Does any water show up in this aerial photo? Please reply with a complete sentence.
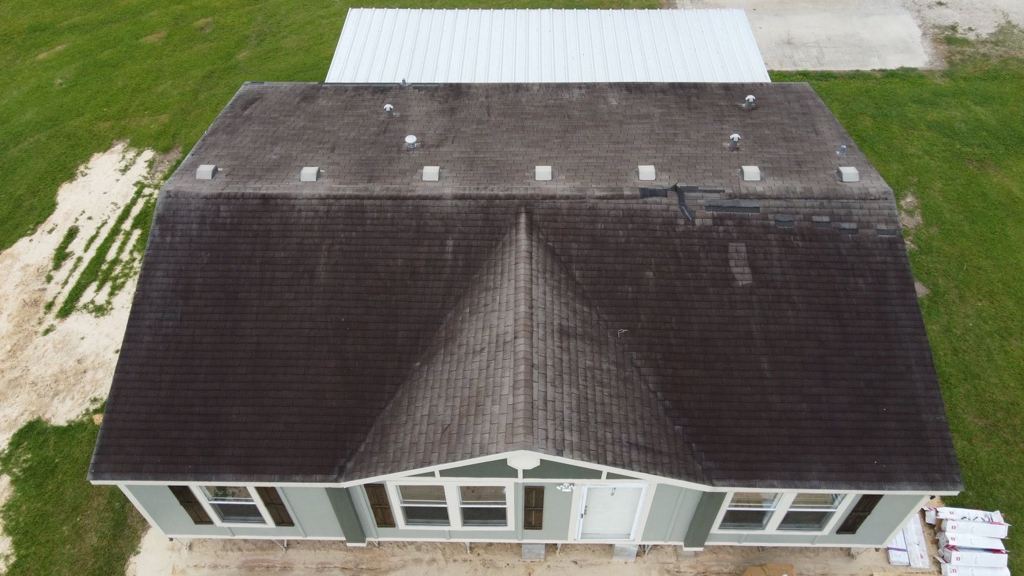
No, the scene doesn't show any water.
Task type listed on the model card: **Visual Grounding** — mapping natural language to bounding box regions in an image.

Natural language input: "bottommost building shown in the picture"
[87,73,964,560]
